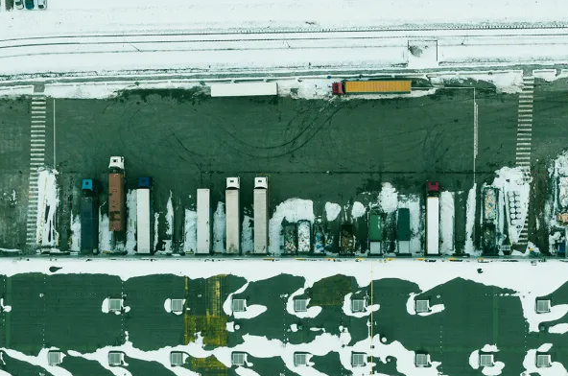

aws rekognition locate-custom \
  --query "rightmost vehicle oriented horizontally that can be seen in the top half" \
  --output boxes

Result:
[334,80,412,96]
